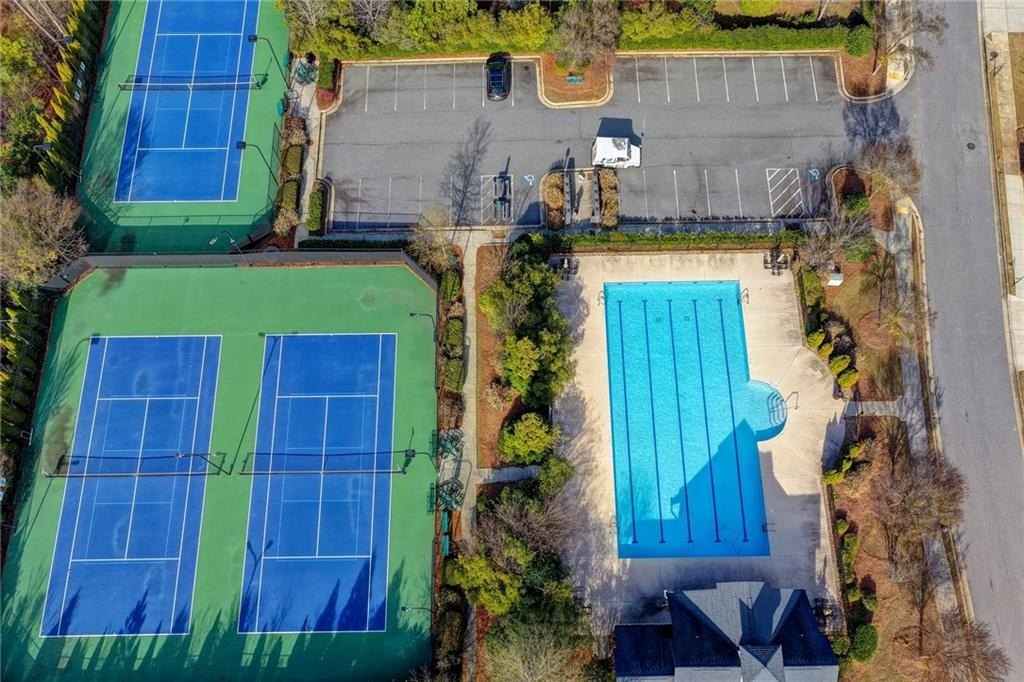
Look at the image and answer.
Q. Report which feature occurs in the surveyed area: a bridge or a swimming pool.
swimming pool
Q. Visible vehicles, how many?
2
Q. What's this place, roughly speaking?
sports ground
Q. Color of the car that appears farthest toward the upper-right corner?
white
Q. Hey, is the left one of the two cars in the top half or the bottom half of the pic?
top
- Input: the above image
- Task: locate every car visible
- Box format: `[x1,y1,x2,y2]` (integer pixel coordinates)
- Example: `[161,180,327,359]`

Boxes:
[592,140,641,168]
[486,53,511,99]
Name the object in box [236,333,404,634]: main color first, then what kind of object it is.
blue tennis court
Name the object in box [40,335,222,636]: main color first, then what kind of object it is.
blue tennis court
